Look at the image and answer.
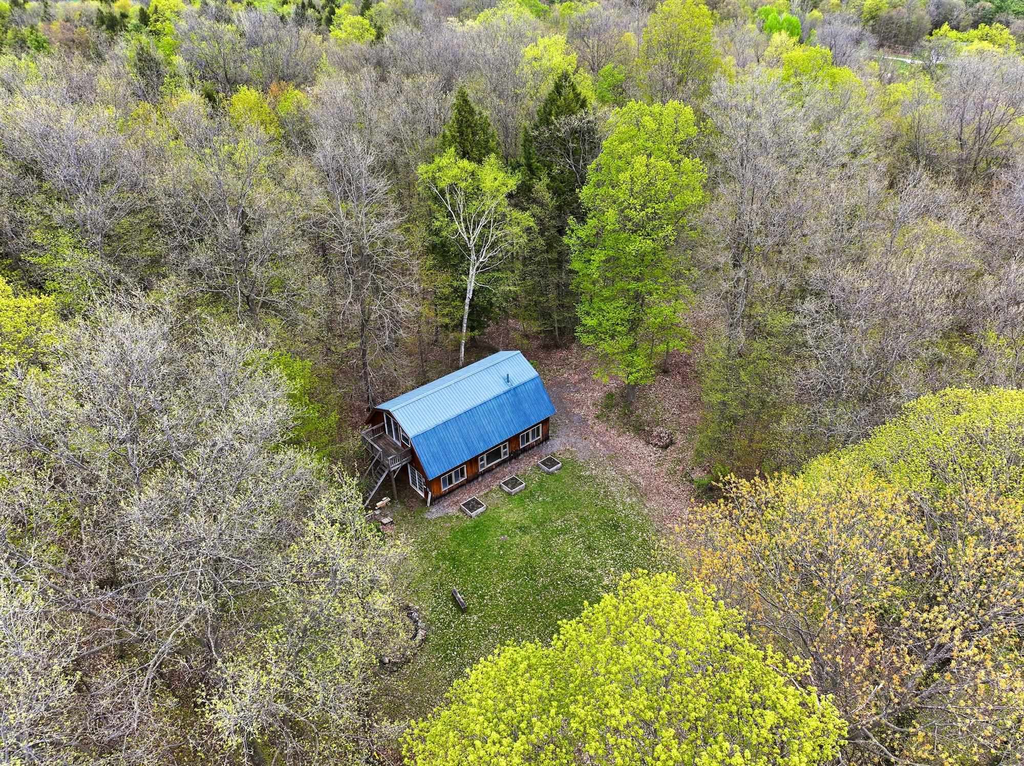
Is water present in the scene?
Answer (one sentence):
No, water can't be seen anywhere here.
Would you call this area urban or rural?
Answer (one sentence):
From above, the setting appears rural.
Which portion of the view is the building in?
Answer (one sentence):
You can find the building in the center area of the picture.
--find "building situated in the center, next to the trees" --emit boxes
[365,351,556,506]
